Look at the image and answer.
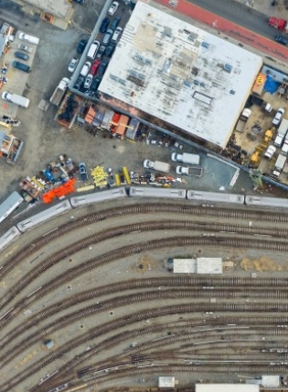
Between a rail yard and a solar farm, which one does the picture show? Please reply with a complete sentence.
It's a rail yard.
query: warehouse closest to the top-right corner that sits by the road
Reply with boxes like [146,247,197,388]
[97,0,265,155]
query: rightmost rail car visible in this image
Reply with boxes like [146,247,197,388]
[245,195,288,209]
